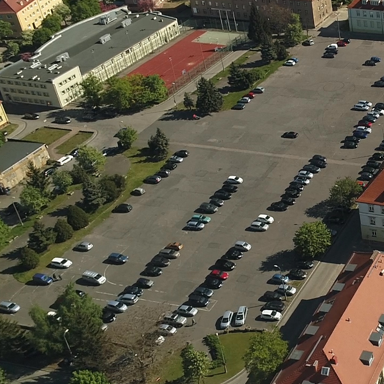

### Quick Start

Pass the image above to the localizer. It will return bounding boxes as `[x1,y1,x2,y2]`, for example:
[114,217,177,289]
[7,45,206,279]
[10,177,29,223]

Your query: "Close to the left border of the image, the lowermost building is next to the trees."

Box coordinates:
[0,138,51,193]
